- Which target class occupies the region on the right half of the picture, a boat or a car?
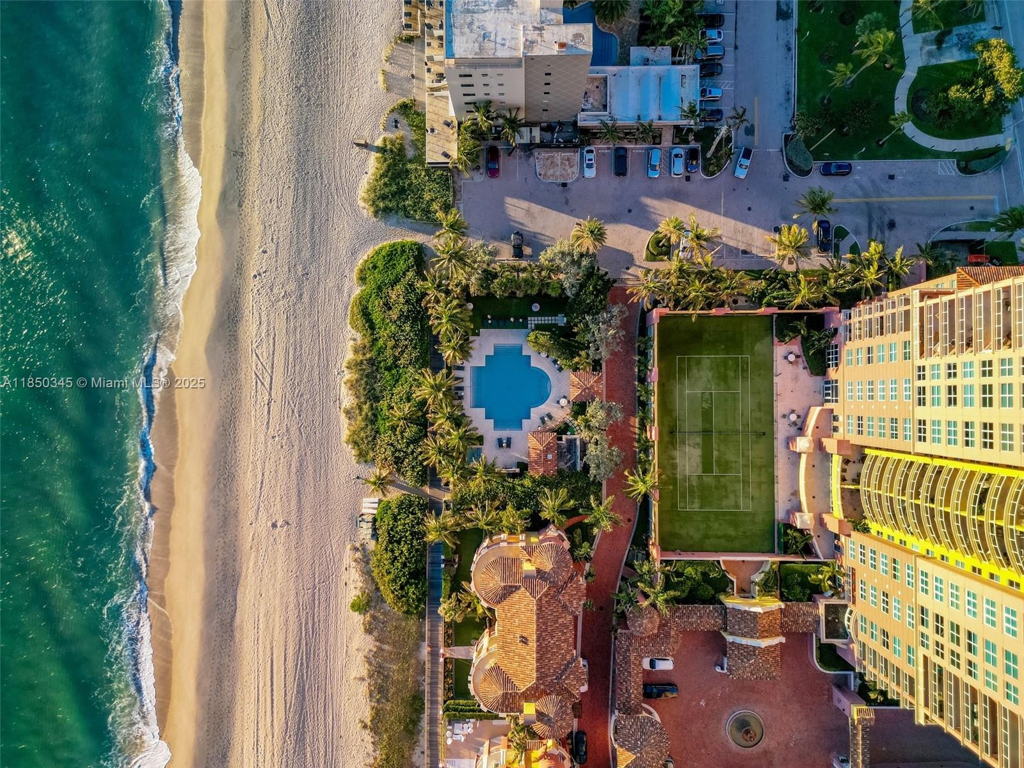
car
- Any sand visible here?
Yes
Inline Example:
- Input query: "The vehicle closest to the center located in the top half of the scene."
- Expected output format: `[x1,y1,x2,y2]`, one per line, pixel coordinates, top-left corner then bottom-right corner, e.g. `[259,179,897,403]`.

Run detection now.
[510,228,524,260]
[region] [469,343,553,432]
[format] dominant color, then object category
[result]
blue swimming pool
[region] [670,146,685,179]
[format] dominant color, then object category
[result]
blue car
